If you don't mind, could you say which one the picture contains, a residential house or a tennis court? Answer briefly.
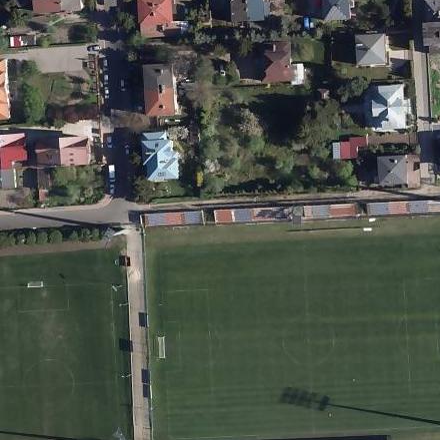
residential house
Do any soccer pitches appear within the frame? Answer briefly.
Yes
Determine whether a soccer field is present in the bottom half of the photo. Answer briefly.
Yes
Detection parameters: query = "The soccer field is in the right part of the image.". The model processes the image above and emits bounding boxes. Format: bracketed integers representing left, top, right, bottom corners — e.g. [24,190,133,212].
[144,214,440,440]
